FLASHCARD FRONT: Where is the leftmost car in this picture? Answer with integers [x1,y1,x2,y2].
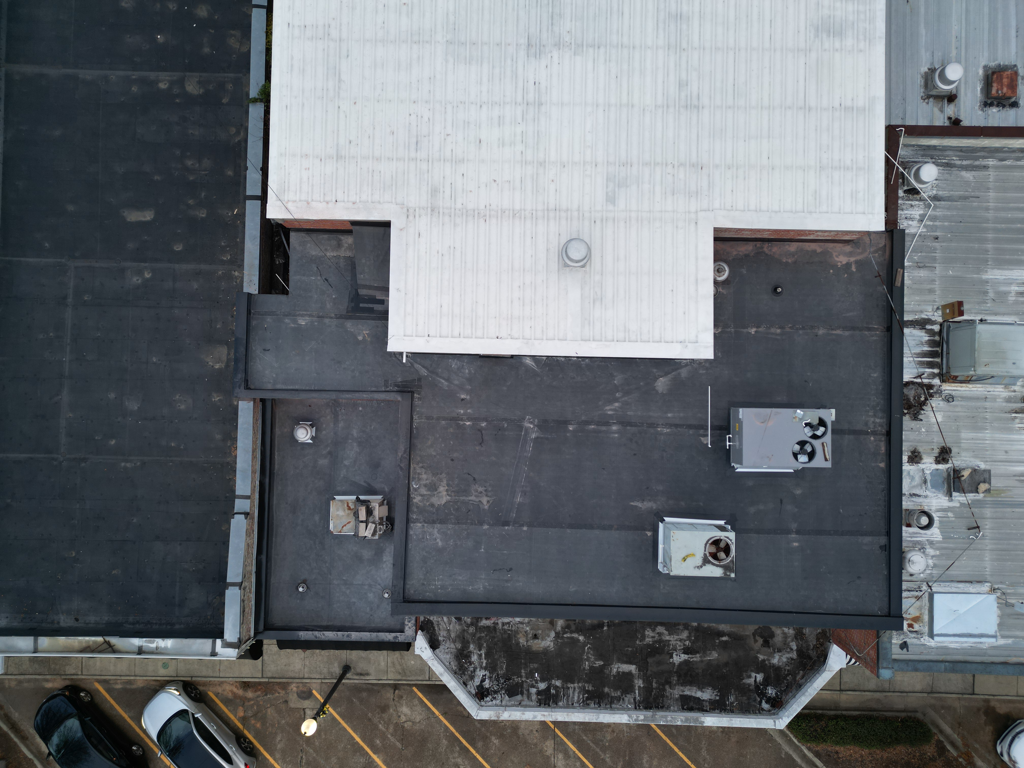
[32,683,151,768]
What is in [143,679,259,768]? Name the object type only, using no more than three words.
car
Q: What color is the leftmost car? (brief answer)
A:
black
